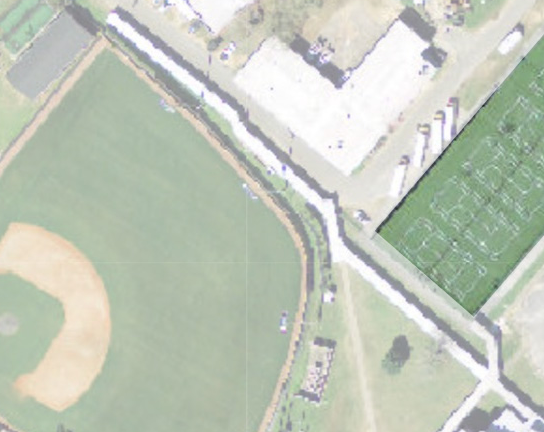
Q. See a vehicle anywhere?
Yes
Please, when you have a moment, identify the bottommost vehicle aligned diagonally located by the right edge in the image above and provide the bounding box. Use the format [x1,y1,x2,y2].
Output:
[494,26,524,54]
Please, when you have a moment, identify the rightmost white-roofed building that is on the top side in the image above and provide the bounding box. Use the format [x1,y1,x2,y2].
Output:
[233,19,440,174]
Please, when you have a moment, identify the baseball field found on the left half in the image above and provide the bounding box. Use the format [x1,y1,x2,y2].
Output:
[0,40,310,432]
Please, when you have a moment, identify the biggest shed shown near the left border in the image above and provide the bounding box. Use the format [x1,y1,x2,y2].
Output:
[6,9,102,97]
